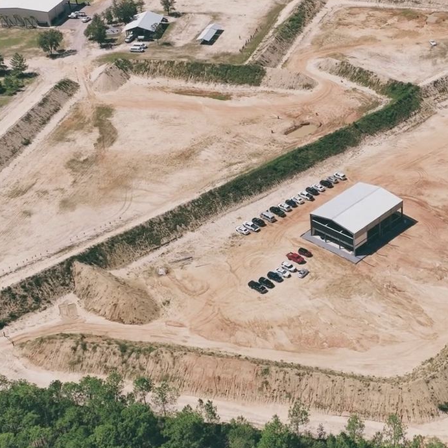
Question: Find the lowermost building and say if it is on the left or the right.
right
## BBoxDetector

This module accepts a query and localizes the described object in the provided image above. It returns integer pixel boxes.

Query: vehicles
[266,271,285,283]
[258,276,276,288]
[312,184,328,192]
[269,205,288,217]
[325,177,341,185]
[251,217,268,227]
[279,259,299,272]
[235,226,252,236]
[298,190,317,201]
[285,251,308,264]
[130,47,145,54]
[70,13,82,18]
[319,179,335,188]
[284,199,300,209]
[275,267,293,278]
[242,220,262,233]
[290,196,307,204]
[429,40,439,46]
[296,245,315,258]
[259,209,278,222]
[277,202,293,212]
[247,280,270,294]
[333,171,349,180]
[294,267,313,280]
[304,186,321,195]
[133,43,147,49]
